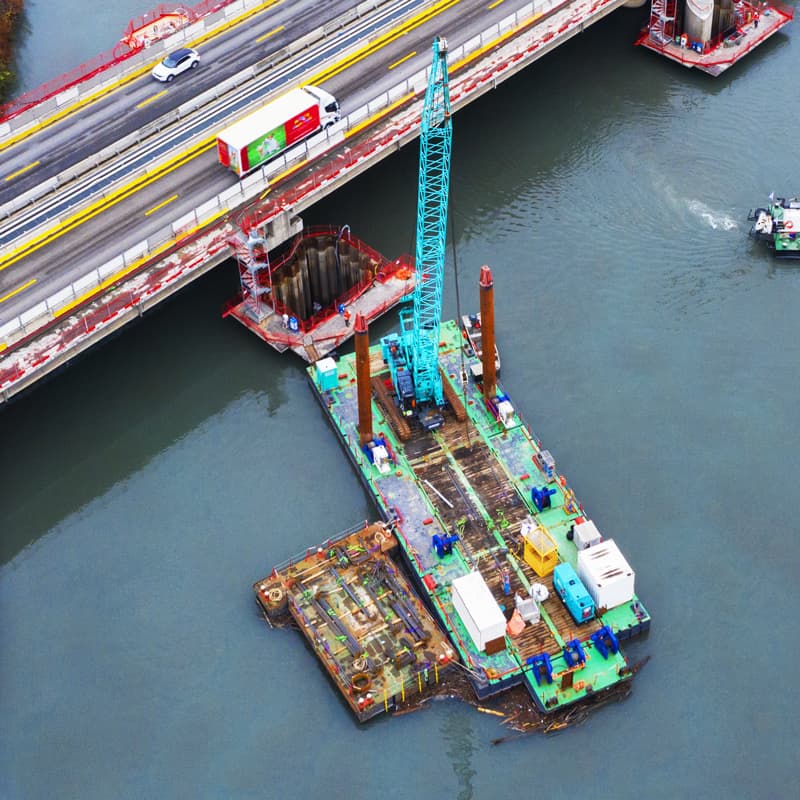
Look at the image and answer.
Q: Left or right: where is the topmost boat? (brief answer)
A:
right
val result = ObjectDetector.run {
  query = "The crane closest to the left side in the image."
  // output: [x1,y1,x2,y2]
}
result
[371,27,472,452]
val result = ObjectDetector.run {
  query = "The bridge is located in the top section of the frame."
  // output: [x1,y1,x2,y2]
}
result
[0,0,655,405]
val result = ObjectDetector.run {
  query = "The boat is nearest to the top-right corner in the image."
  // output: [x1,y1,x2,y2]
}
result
[746,188,800,260]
